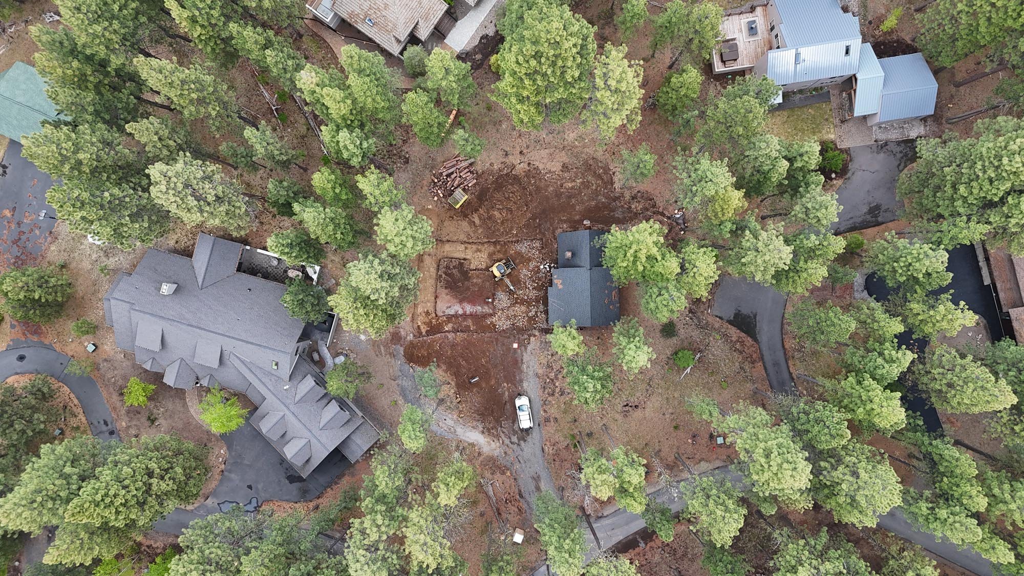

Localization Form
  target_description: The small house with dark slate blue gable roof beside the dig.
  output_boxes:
[548,230,620,326]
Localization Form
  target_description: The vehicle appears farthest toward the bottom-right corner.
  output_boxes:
[517,396,533,430]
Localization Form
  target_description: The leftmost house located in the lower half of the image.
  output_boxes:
[104,232,381,479]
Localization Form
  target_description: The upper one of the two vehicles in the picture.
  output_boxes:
[488,257,516,290]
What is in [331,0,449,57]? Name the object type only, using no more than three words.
house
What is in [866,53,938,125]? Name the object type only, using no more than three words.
building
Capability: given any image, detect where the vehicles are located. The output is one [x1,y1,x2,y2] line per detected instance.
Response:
[488,257,516,290]
[517,396,533,430]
